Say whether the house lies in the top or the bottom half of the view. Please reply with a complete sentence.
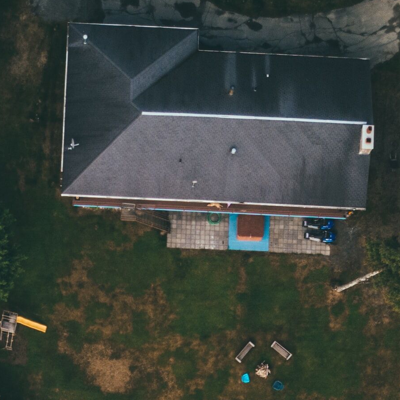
The house is in the top half of the image.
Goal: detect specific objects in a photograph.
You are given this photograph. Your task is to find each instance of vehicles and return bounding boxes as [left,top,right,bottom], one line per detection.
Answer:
[304,230,337,245]
[301,218,335,232]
